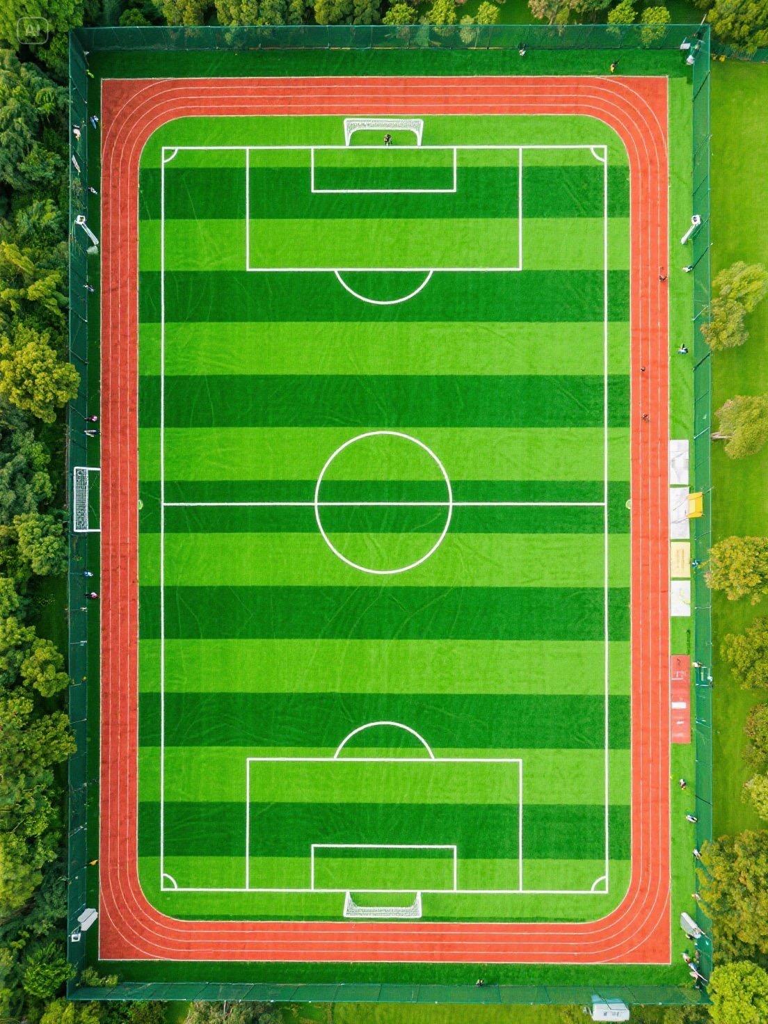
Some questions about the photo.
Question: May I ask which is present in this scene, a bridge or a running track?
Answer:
running track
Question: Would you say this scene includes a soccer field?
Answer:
Yes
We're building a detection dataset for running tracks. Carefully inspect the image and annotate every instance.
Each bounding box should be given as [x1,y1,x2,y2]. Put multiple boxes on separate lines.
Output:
[98,76,671,964]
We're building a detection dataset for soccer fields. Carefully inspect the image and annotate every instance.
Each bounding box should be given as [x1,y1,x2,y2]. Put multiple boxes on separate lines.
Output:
[137,115,630,921]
